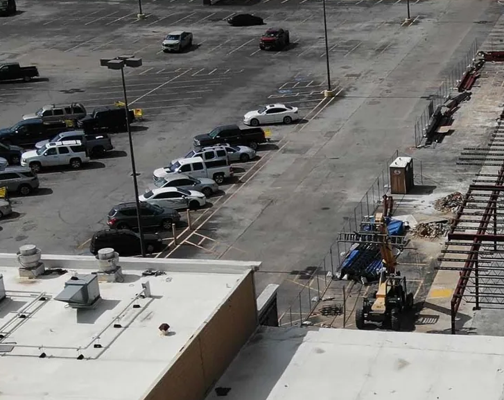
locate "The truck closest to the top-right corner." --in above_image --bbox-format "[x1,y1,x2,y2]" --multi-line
[253,27,289,49]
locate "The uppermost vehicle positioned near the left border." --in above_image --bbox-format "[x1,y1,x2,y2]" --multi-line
[0,0,21,16]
